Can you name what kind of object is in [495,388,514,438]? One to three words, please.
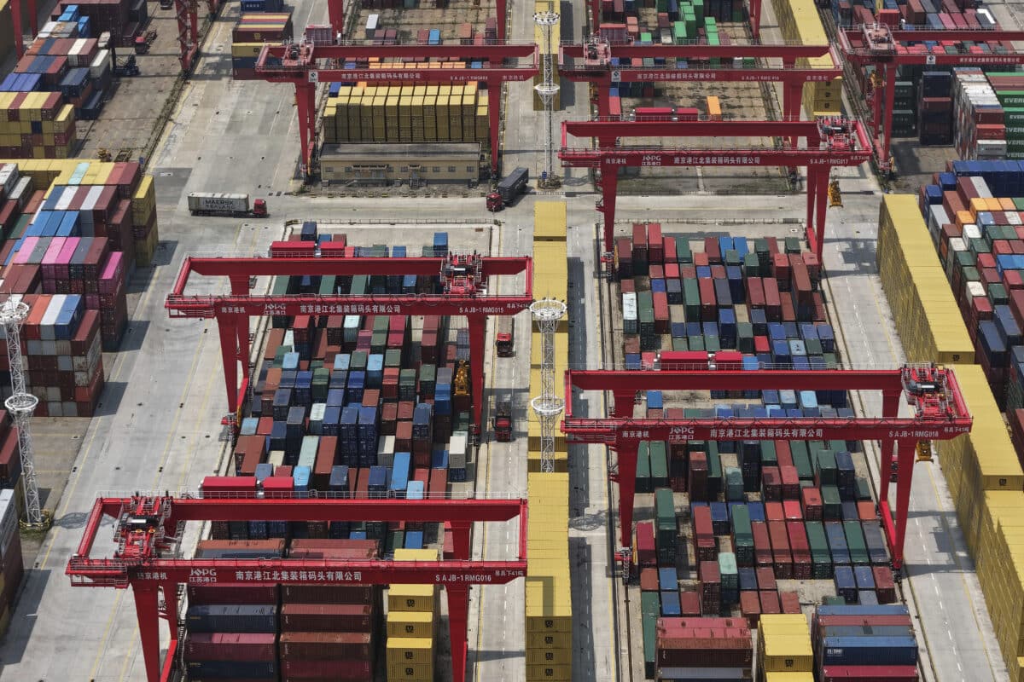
vehicle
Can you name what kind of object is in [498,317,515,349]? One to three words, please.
vehicle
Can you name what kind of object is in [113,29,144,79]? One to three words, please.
work vehicle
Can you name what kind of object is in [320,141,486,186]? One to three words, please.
building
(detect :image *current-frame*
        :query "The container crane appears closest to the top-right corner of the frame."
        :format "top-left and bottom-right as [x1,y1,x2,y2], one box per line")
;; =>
[837,12,1024,165]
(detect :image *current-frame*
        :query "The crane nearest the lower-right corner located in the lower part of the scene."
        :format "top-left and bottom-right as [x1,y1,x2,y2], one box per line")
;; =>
[557,347,972,579]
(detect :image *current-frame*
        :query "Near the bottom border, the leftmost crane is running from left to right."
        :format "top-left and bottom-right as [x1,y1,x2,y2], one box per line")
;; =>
[62,470,532,682]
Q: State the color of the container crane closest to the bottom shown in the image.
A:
red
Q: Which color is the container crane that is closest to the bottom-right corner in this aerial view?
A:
red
